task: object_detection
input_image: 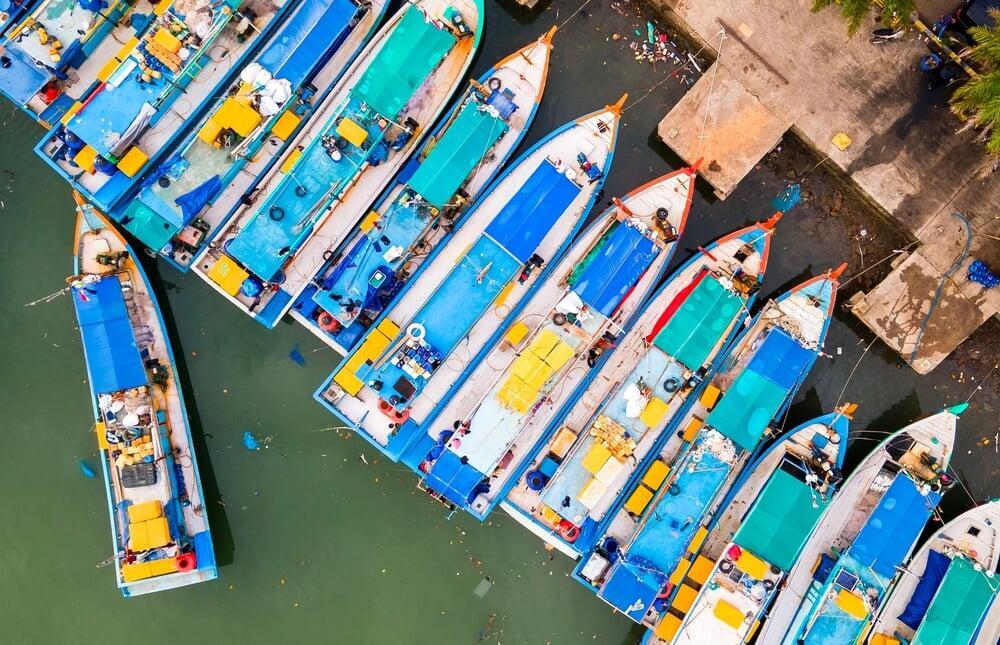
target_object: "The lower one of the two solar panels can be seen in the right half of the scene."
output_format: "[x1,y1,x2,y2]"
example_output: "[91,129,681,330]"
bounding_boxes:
[834,569,857,592]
